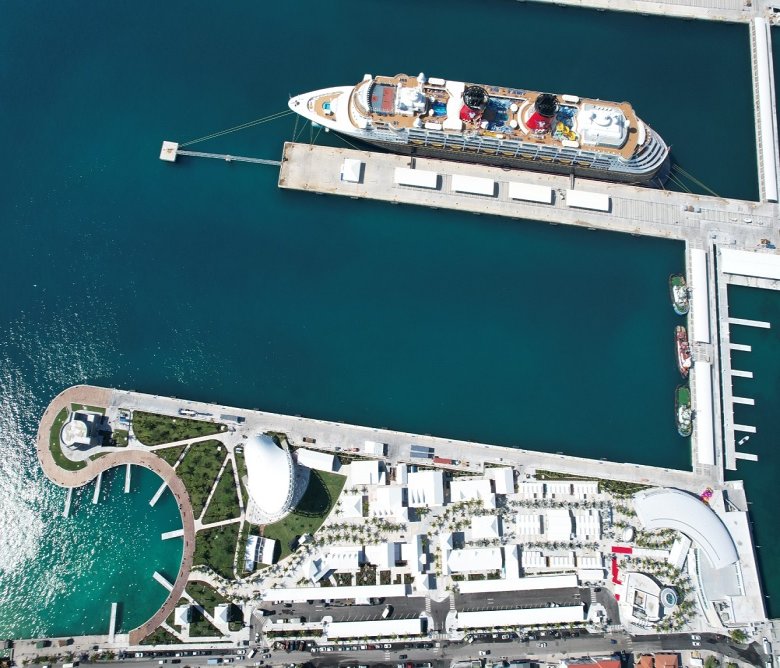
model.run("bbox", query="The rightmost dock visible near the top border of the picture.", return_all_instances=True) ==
[748,16,780,206]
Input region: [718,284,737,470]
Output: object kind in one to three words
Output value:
pier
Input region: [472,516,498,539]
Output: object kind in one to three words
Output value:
building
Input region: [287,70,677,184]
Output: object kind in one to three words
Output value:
ship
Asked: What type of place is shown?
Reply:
port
